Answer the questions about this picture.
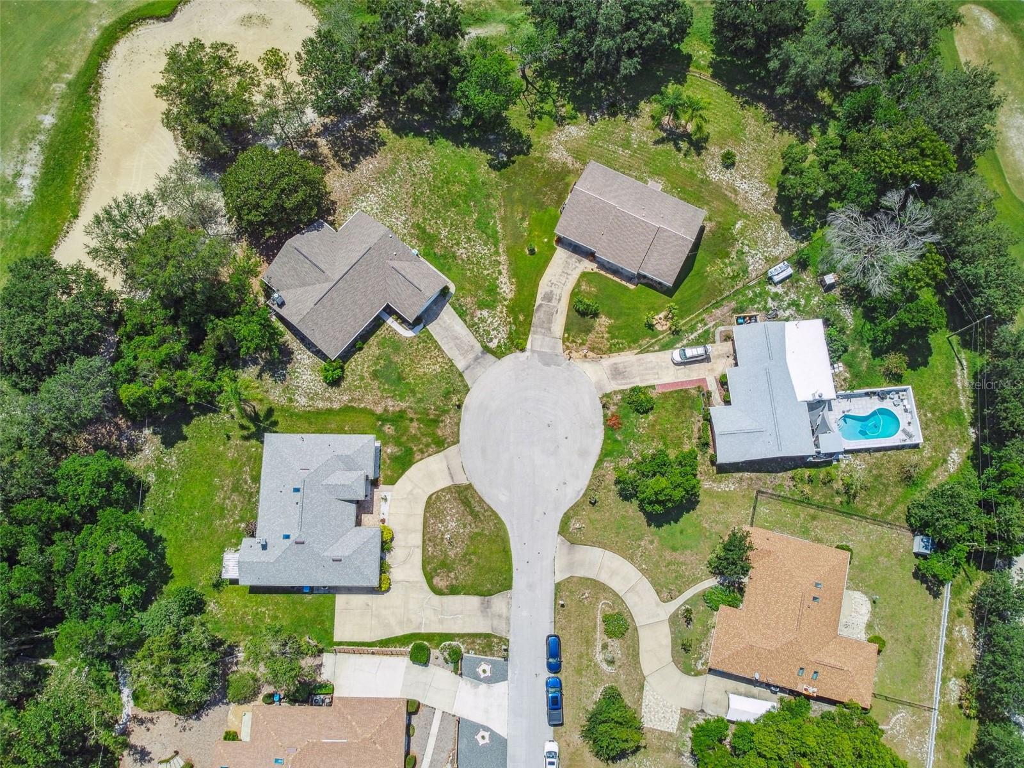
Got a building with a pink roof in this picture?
No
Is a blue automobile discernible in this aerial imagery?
Yes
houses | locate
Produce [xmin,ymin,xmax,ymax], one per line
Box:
[261,211,451,361]
[554,160,706,287]
[238,434,381,587]
[213,696,407,768]
[708,528,878,709]
[710,320,815,464]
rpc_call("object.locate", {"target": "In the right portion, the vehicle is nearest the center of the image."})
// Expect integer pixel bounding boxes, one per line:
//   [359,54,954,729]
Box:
[670,342,717,364]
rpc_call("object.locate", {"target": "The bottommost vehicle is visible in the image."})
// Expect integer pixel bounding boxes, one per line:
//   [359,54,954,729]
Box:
[542,740,562,768]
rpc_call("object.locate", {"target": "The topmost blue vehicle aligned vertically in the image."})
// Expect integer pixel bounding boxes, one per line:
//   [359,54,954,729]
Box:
[545,634,564,673]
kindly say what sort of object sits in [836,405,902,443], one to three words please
swimming pool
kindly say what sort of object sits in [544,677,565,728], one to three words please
truck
